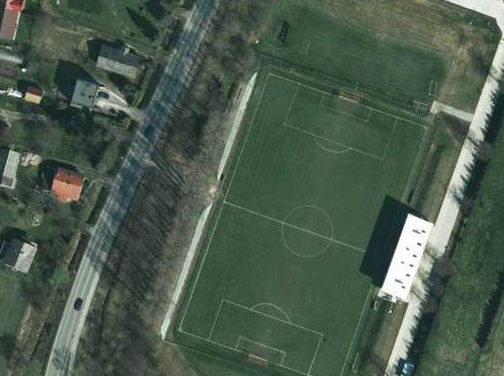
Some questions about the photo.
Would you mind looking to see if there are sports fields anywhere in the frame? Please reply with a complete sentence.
Yes, there's a sports field here.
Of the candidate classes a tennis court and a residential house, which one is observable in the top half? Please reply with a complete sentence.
The feature located in the top half is a residential house.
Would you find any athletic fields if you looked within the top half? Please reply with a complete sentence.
Yes, there is an athletic field within the top half.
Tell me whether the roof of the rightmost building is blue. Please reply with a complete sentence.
No, from above the roof of the rightmost building looks white.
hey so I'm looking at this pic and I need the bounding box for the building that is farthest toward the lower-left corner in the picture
[0,235,38,275]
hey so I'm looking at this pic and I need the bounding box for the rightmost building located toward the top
[95,44,142,82]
